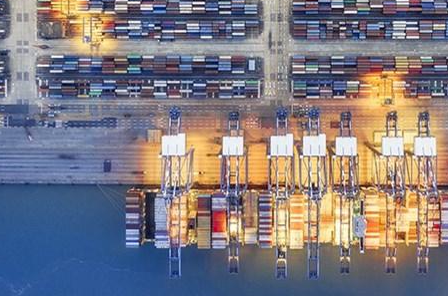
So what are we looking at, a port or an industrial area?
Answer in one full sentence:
It's a port.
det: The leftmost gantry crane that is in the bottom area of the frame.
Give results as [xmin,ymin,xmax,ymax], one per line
[162,105,196,278]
